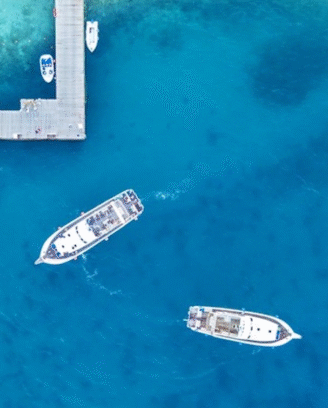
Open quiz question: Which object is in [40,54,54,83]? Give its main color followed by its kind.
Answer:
white boat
